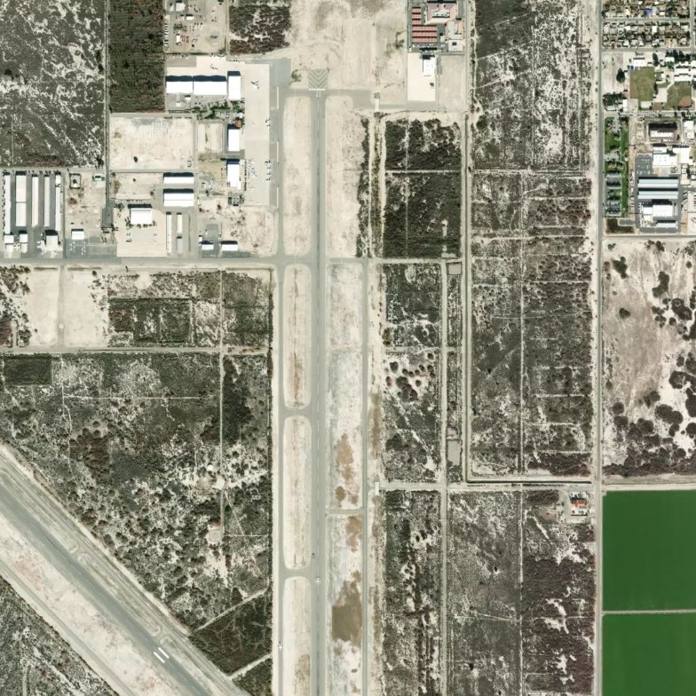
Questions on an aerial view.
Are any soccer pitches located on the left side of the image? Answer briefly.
No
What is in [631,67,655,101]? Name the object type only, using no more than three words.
soccer field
